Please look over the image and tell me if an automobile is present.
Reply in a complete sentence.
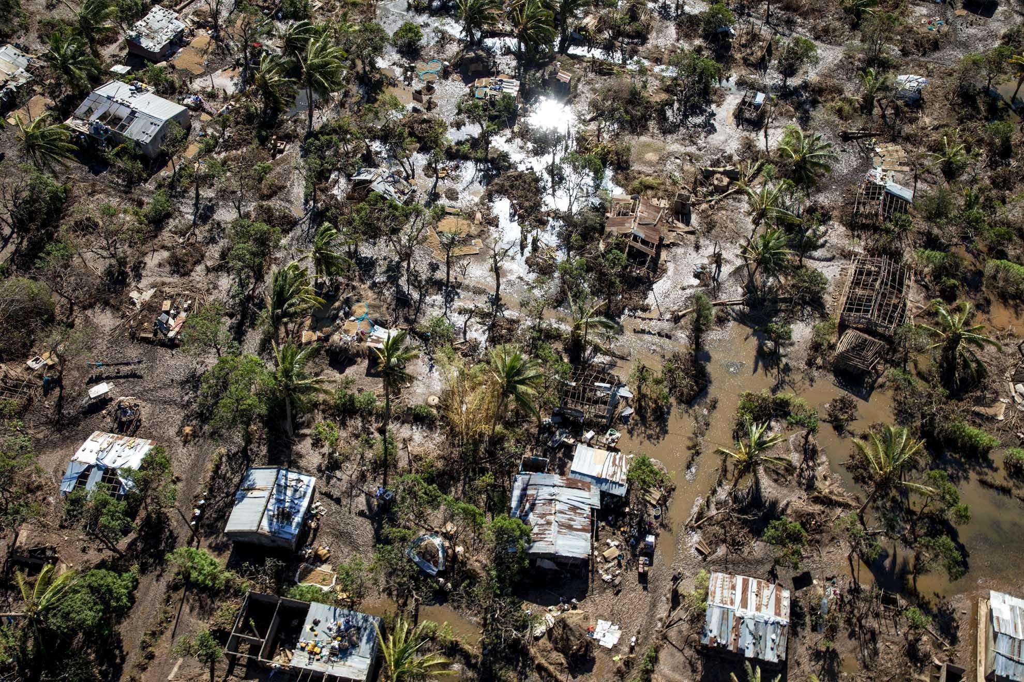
No, no automobile can be seen from above.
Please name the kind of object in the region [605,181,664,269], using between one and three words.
house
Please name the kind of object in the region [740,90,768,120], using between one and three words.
shed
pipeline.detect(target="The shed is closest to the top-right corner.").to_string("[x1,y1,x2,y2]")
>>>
[895,75,928,107]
